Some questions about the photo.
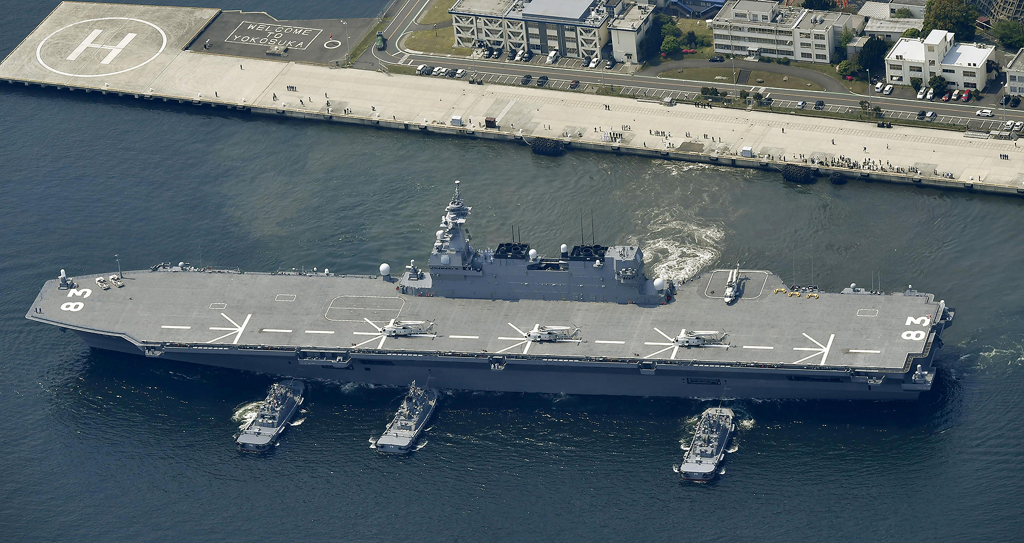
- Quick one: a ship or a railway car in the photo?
ship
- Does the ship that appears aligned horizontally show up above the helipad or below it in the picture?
below it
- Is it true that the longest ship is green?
No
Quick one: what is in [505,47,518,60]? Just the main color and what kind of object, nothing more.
black vehicle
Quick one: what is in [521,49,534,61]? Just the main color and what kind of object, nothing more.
black vehicle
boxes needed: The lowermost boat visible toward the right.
[679,400,735,483]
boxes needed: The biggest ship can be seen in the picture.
[26,180,956,399]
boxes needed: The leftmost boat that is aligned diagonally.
[234,371,303,452]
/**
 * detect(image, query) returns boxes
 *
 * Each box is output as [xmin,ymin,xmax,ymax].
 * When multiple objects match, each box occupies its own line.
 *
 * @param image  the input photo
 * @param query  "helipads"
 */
[0,0,220,96]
